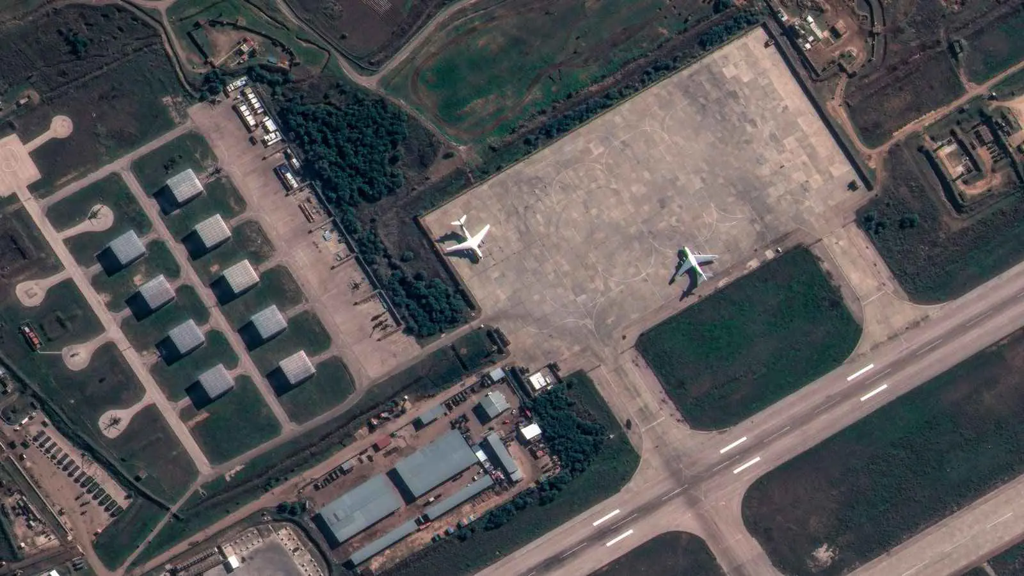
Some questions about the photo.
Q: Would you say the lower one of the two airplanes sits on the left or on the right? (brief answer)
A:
right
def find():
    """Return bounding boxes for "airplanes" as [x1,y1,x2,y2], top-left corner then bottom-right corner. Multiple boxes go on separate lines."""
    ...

[448,218,490,259]
[674,246,718,280]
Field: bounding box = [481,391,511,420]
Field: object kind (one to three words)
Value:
building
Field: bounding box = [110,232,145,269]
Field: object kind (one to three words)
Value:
hangar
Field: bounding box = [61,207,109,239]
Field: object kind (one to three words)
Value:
helipad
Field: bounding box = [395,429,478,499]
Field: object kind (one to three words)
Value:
building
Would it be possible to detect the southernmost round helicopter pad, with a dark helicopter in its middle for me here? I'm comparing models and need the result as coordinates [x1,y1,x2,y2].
[100,395,156,433]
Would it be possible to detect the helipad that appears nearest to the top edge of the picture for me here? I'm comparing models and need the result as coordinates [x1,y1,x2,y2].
[25,118,72,154]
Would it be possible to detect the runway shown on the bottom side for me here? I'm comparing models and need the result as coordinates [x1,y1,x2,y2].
[473,260,1024,576]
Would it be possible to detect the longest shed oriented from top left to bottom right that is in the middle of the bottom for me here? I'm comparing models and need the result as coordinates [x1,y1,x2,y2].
[487,433,521,483]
